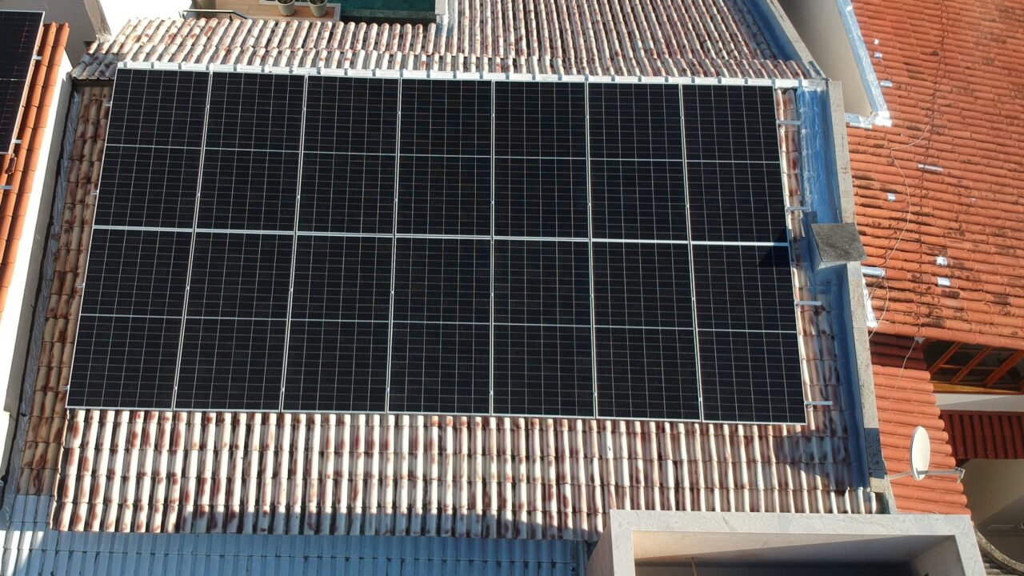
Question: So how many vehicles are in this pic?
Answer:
0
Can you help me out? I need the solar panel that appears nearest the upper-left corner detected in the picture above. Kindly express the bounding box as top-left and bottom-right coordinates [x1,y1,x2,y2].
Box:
[0,15,44,159]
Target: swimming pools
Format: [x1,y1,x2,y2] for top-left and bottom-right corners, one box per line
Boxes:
[340,0,433,34]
